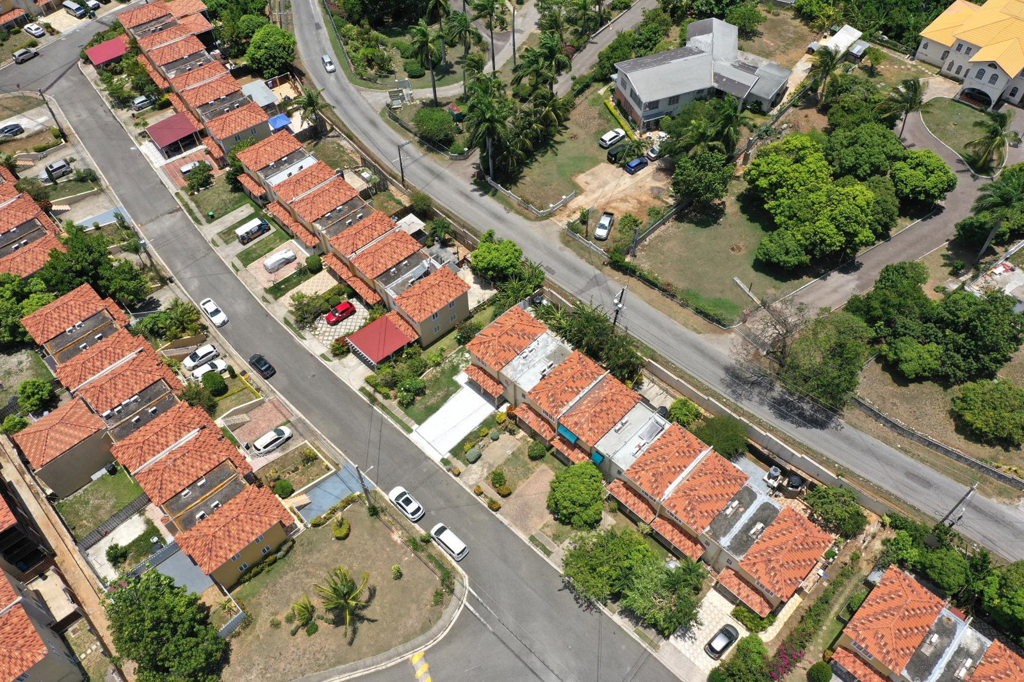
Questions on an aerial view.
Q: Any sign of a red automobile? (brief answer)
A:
Yes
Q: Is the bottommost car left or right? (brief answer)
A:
right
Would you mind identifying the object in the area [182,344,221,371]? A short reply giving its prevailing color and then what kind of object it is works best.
white car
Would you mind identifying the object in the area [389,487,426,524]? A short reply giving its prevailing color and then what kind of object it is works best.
white car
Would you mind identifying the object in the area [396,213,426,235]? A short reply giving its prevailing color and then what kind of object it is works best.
white gazebo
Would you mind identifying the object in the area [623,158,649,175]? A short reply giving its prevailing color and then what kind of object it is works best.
blue car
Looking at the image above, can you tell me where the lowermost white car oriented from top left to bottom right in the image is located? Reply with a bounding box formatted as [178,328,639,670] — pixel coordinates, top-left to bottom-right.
[431,524,471,563]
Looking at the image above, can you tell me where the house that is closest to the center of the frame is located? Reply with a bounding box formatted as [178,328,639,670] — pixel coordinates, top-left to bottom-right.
[463,306,559,407]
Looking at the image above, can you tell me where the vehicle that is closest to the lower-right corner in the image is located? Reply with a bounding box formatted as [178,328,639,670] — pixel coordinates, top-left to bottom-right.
[702,624,740,664]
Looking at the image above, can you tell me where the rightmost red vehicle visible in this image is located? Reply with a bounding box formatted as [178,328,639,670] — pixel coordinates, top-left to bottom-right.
[325,300,358,324]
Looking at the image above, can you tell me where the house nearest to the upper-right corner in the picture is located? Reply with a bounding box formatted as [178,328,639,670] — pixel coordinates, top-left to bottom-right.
[916,2,1024,112]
